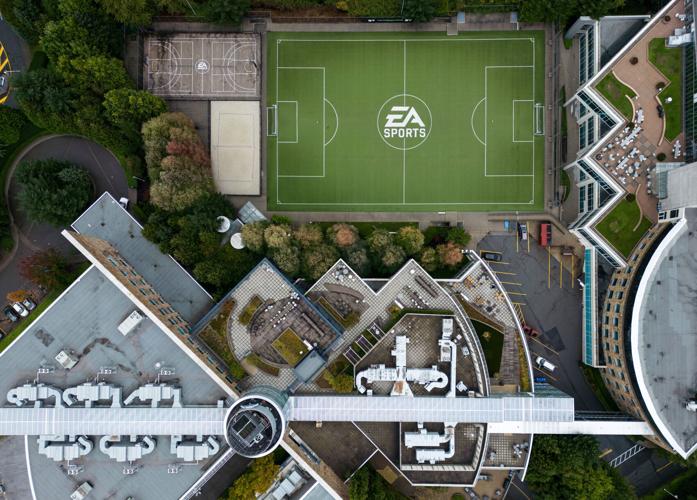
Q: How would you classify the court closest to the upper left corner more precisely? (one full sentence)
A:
The court closest to the upper left corner can be classified as a basketball court.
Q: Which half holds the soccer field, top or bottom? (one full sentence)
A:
The top half of the photo is where the soccer field is.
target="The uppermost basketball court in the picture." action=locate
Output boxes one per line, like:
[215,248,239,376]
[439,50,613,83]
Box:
[144,32,261,95]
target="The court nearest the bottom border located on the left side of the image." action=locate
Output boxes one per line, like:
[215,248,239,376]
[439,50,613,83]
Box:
[210,101,260,195]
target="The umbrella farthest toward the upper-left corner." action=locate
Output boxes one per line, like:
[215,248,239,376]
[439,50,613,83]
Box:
[216,216,231,232]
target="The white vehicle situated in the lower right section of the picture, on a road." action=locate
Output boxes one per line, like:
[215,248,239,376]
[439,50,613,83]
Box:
[535,355,557,372]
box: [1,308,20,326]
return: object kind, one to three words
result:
car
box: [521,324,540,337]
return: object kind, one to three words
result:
vehicle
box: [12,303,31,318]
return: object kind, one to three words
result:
car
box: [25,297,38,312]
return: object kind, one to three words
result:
vehicle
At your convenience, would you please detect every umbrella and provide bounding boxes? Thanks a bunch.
[216,216,231,232]
[230,233,246,249]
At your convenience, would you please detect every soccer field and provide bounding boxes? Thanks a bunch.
[267,30,545,212]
